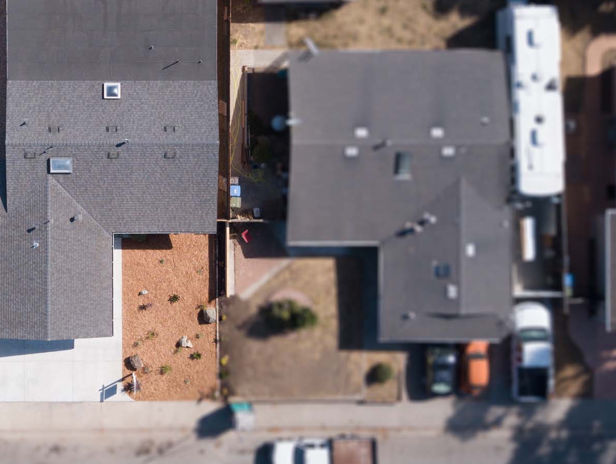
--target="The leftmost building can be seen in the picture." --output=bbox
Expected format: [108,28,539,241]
[0,0,219,340]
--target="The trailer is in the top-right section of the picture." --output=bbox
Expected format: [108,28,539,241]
[502,6,560,209]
